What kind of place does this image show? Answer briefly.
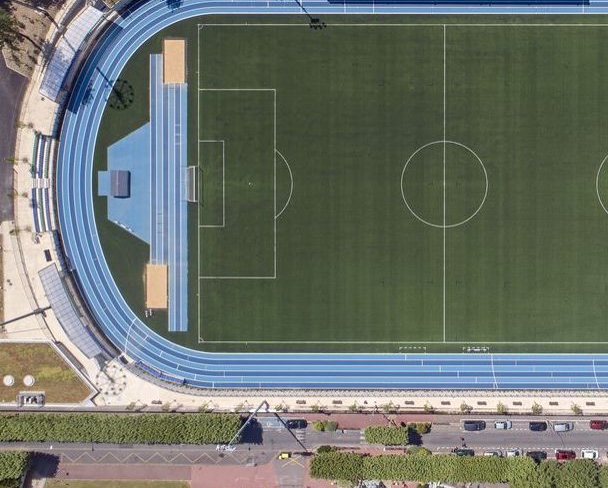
sports ground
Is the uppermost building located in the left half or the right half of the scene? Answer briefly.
left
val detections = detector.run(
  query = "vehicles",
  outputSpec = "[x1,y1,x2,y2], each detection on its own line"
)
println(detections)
[553,448,576,460]
[454,447,475,457]
[552,421,574,432]
[286,419,308,429]
[279,451,290,460]
[527,421,548,431]
[463,420,486,430]
[482,448,502,458]
[504,448,525,460]
[493,420,513,431]
[525,449,548,461]
[588,420,608,431]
